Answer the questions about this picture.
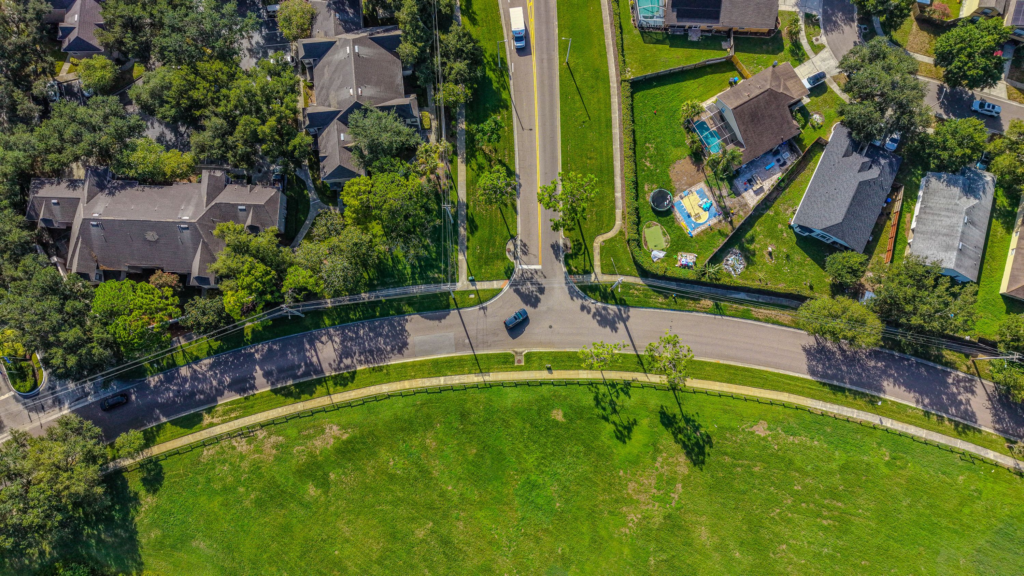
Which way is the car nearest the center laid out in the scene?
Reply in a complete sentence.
The car nearest the center is oriented diagonally.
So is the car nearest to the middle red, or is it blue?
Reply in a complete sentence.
The color of the car nearest to the middle is blue.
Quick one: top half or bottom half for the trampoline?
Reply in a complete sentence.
The trampoline sits in the top half of the picture.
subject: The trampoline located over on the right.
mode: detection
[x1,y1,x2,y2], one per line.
[650,189,672,210]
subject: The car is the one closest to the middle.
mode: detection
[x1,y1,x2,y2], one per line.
[502,307,528,331]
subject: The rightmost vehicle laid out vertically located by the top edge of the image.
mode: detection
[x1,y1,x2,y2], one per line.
[509,7,527,50]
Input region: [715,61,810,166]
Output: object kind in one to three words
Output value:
house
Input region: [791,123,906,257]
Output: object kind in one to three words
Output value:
house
